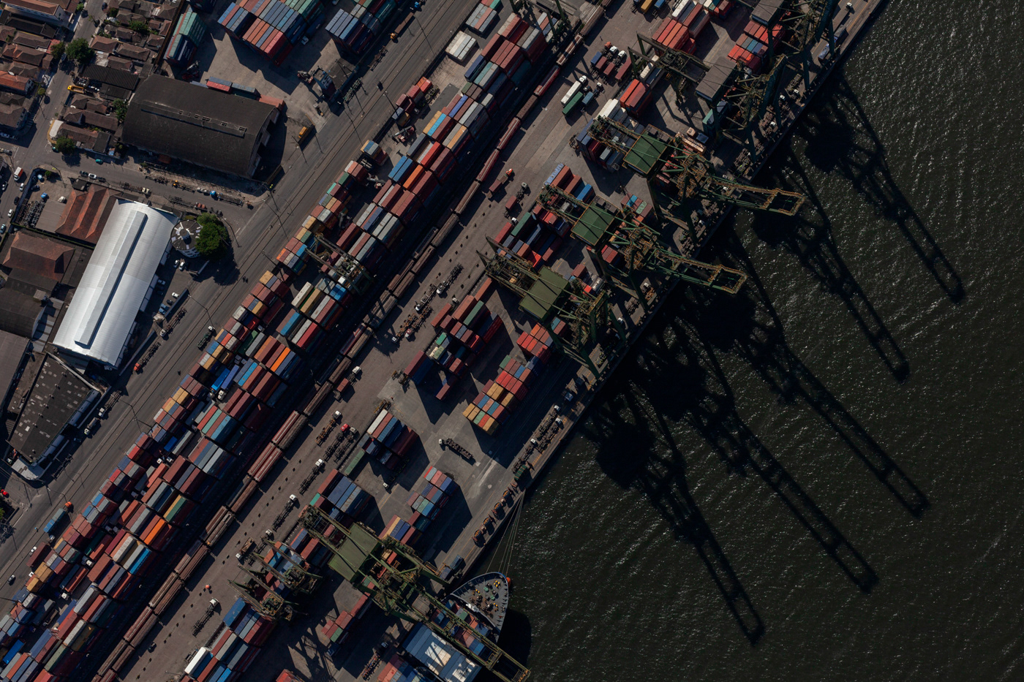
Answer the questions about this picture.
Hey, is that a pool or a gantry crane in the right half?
gantry crane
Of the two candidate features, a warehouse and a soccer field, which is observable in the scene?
warehouse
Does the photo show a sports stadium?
No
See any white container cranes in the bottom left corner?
No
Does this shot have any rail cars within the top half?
Yes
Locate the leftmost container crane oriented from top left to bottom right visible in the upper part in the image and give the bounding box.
[304,235,374,296]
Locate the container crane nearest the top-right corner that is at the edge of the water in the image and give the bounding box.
[748,0,840,92]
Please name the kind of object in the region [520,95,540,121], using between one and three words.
rail car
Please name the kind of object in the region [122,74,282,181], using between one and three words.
building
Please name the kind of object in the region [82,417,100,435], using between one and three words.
vehicle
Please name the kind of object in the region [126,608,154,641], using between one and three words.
rail car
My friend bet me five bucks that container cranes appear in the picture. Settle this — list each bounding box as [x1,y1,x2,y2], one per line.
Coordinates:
[250,537,324,598]
[656,38,786,169]
[589,114,804,249]
[304,235,374,296]
[484,251,630,384]
[537,183,749,317]
[505,0,569,29]
[626,31,687,95]
[474,234,540,292]
[227,564,304,626]
[302,510,530,682]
